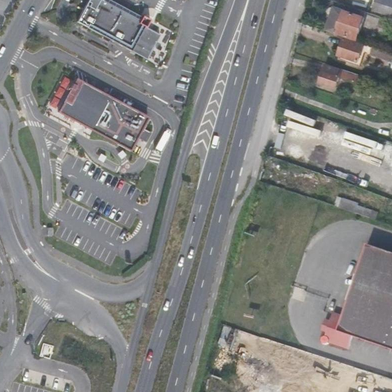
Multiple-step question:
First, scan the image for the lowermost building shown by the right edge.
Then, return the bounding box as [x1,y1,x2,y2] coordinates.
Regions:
[320,244,392,350]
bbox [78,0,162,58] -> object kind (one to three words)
building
